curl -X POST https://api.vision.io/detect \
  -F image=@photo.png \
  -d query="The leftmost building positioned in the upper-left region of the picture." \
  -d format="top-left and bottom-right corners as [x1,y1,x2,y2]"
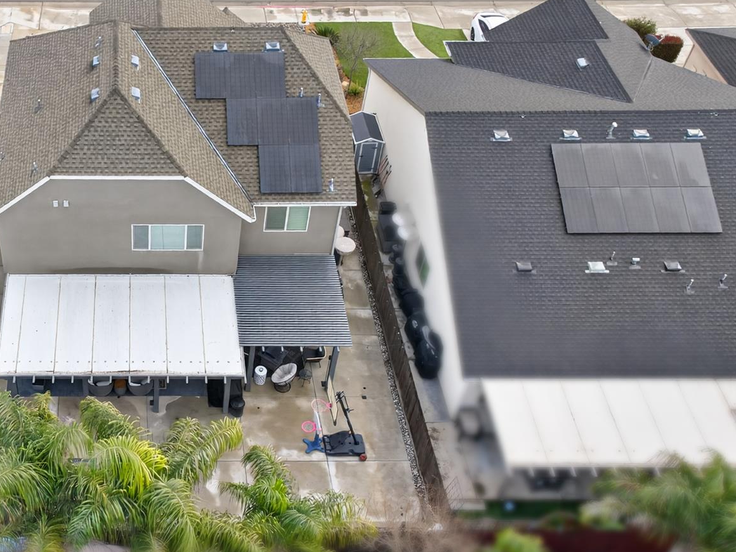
[0,0,357,279]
